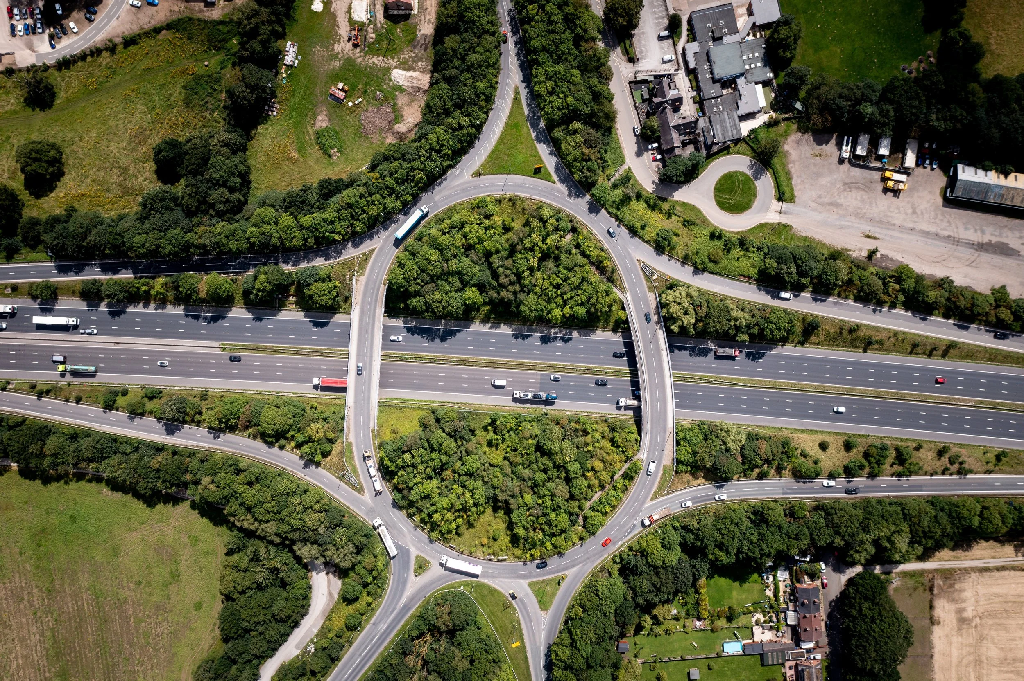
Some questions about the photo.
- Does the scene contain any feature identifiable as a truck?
Yes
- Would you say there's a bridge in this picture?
Yes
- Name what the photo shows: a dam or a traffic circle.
traffic circle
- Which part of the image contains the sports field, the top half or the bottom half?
top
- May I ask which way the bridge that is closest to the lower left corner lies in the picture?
from top to bottom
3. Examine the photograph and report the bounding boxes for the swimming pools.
[722,641,742,653]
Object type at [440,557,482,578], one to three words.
truck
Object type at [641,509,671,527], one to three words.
vehicle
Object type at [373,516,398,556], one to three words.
truck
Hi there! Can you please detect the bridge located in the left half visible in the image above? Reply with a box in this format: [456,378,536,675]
[343,277,388,441]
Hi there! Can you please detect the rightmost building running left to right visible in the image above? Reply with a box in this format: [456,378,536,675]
[946,163,1024,210]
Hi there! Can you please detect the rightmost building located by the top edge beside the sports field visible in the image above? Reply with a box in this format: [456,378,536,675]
[683,0,781,146]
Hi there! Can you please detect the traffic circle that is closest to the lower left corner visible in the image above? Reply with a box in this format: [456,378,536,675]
[352,174,668,583]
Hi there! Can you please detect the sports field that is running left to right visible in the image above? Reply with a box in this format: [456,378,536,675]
[779,0,938,81]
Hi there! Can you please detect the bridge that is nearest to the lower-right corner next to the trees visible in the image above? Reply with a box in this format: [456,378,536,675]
[623,290,677,465]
